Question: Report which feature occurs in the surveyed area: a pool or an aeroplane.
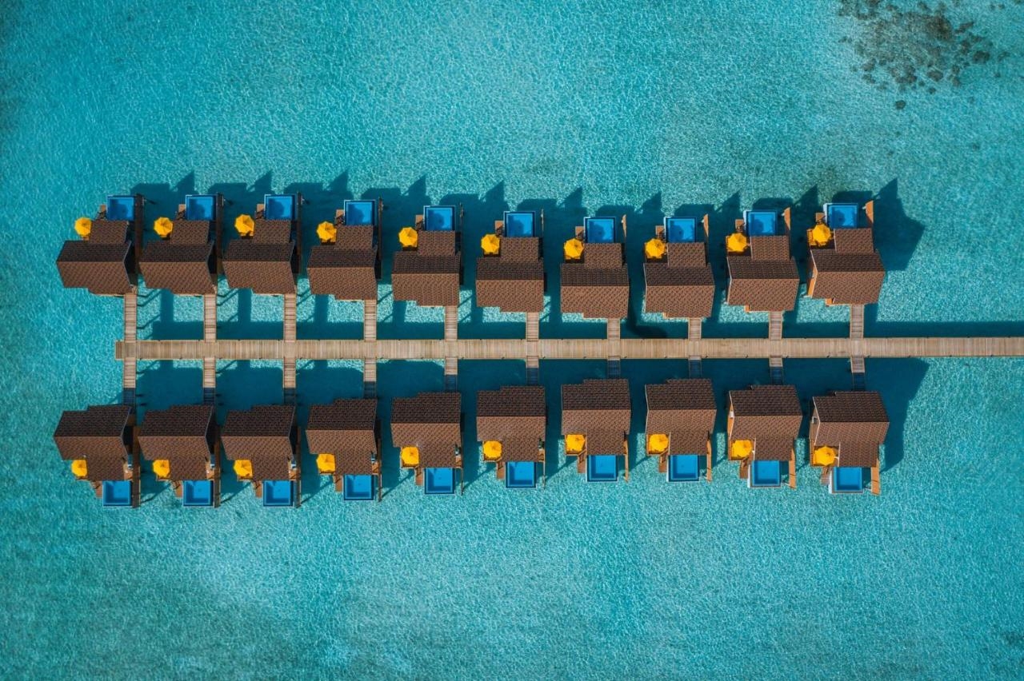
pool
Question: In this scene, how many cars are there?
0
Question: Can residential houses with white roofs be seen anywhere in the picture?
No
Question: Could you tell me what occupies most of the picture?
water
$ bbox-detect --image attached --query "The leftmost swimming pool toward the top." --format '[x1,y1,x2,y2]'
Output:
[105,195,137,224]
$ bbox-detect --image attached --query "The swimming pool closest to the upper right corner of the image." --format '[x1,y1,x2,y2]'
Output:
[824,204,859,234]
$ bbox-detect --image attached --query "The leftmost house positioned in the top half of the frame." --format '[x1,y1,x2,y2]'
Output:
[56,191,149,295]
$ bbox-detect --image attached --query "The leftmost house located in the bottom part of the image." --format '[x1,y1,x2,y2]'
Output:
[53,405,144,511]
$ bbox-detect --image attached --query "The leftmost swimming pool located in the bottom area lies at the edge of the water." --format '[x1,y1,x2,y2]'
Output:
[99,478,131,508]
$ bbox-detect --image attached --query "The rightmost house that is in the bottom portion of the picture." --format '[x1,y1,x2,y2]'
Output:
[810,391,889,497]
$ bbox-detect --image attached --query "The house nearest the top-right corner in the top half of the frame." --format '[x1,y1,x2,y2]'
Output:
[807,201,885,305]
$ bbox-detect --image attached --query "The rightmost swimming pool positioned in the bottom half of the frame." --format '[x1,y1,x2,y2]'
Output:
[830,464,865,495]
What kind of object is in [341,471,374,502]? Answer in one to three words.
swimming pool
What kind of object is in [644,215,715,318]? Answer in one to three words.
house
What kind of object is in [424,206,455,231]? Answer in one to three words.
swimming pool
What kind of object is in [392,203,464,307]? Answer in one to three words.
house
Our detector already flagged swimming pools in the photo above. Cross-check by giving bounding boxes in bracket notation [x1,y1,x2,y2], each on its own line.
[343,200,375,230]
[505,461,536,489]
[749,458,782,489]
[586,455,618,483]
[341,471,374,502]
[664,218,697,246]
[504,212,534,238]
[824,204,859,234]
[424,206,455,231]
[667,452,700,483]
[263,194,296,224]
[99,478,131,508]
[183,195,216,224]
[260,478,294,508]
[180,478,213,508]
[423,468,455,496]
[584,218,615,243]
[745,211,778,238]
[105,195,137,224]
[830,464,865,495]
